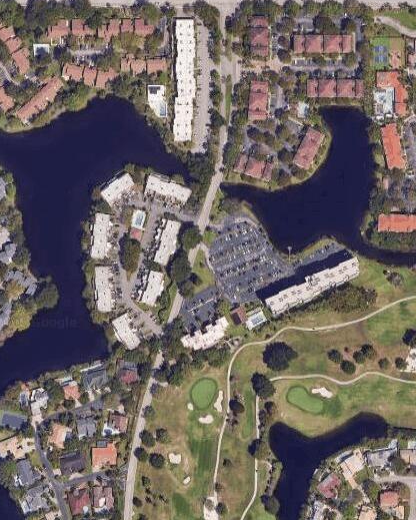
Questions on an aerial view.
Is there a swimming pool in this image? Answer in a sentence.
Yes, the photo shows a swimming pool.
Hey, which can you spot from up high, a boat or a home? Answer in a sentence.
The image shows a home.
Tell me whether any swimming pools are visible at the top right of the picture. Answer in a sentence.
Yes, looking at the top right of the picture, one can make out a swimming pool.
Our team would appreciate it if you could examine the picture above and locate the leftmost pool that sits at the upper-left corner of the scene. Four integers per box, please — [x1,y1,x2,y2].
[34,44,50,58]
